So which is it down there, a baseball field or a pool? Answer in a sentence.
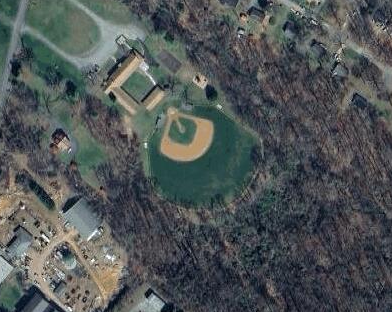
There is a baseball field in the scene.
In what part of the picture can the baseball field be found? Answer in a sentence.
The baseball field appears toward the center of the photo.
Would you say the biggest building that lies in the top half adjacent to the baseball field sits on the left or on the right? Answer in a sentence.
The biggest building that lies in the top half adjacent to the baseball field sits on the left side.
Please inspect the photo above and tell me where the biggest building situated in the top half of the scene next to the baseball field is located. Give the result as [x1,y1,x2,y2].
[103,52,165,115]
